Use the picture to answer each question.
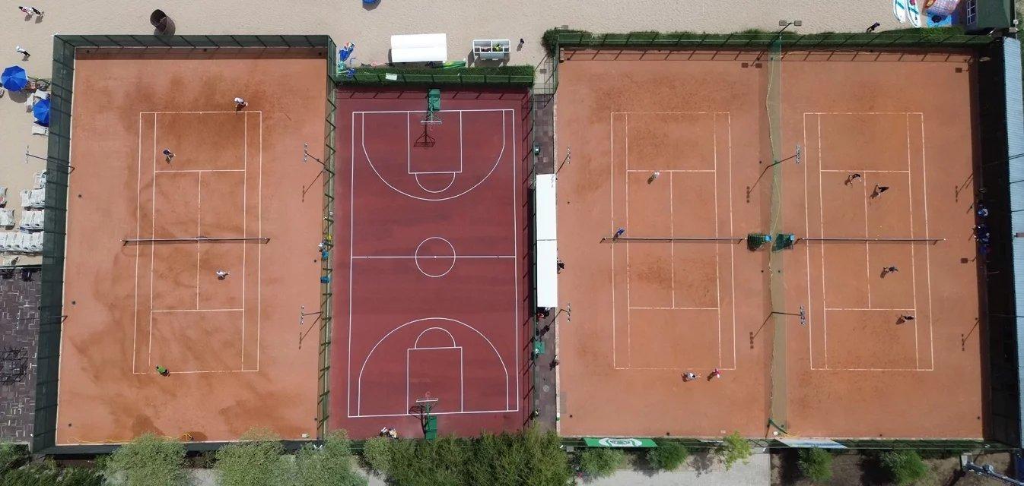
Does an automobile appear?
No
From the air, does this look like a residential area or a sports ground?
sports ground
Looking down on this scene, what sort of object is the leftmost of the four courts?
tennis court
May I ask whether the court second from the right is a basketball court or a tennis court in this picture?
tennis court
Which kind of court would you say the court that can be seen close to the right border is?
tennis court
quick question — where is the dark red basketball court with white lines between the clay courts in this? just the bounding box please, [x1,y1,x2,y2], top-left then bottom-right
[329,85,533,440]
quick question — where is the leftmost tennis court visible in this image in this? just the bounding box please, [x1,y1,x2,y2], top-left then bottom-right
[55,45,331,446]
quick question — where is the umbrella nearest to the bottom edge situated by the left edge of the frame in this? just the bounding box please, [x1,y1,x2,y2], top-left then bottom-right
[34,102,49,123]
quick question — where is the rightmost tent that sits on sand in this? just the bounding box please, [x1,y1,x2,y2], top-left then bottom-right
[391,33,447,65]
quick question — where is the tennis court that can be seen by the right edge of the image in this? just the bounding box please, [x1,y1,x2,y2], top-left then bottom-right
[769,47,992,441]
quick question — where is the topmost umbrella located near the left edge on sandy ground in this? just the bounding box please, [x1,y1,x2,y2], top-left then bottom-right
[3,66,30,91]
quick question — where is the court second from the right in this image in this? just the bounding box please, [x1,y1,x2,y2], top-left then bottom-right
[554,46,770,439]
